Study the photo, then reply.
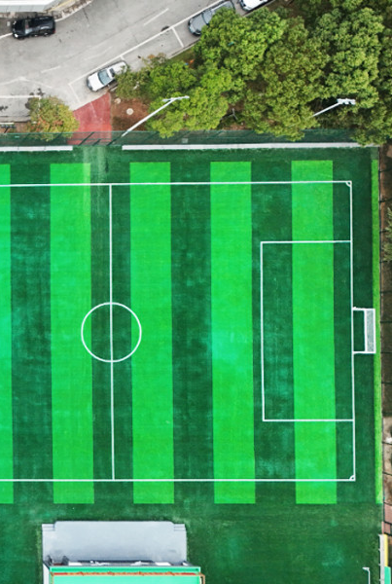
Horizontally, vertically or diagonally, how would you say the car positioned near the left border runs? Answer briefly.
horizontally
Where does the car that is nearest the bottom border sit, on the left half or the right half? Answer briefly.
left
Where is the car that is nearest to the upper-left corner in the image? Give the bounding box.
[9,15,57,40]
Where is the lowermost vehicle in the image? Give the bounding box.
[83,58,131,94]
